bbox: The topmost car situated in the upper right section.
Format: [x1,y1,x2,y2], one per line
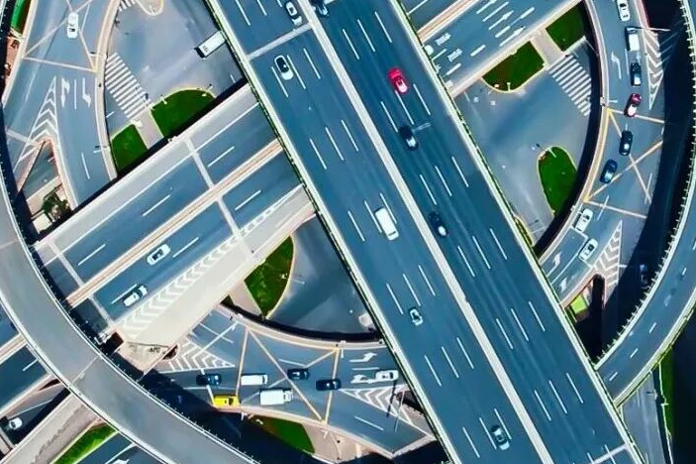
[616,0,630,21]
